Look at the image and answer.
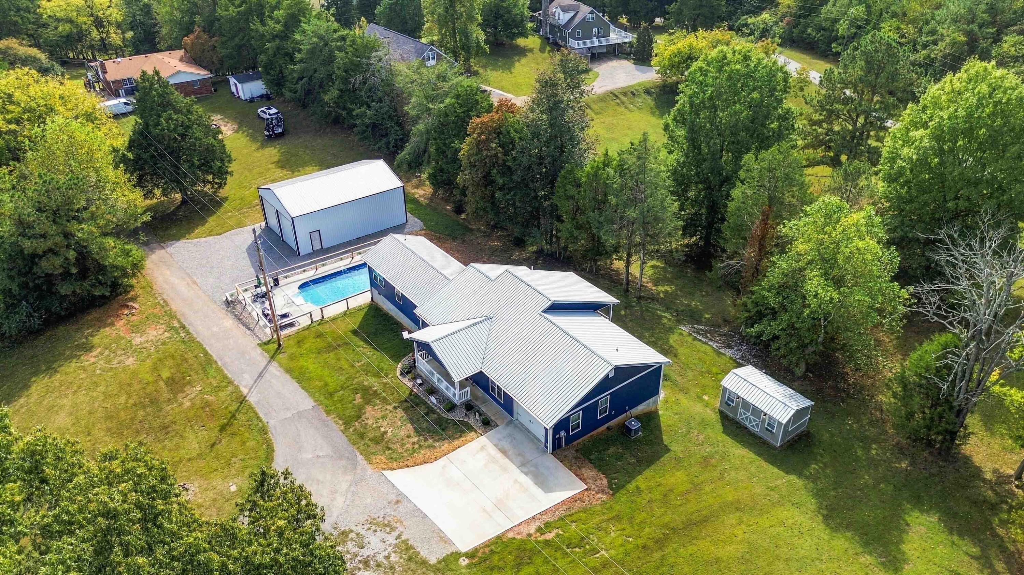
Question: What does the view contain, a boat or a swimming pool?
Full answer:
Of the two, only a swimming pool appears.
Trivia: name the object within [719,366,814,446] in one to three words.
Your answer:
shed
